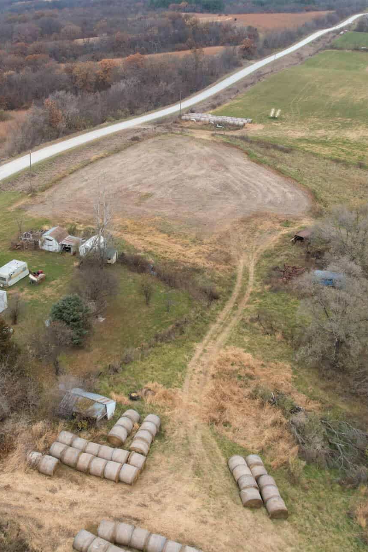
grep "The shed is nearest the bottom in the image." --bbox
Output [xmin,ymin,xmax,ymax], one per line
[67,387,121,423]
